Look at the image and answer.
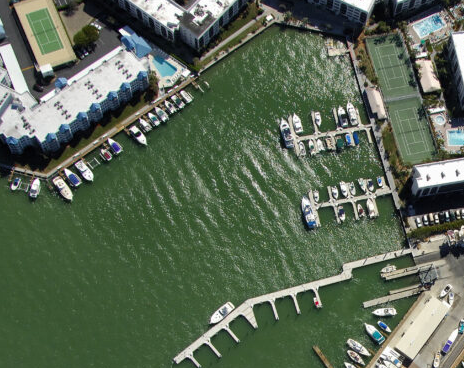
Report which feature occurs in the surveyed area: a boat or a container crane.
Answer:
boat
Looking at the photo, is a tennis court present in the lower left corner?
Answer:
No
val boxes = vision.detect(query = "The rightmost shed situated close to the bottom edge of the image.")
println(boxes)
[394,296,451,361]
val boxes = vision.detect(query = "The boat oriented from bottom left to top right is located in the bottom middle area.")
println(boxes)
[209,301,236,323]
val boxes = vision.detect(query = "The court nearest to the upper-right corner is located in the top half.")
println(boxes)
[366,27,420,100]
